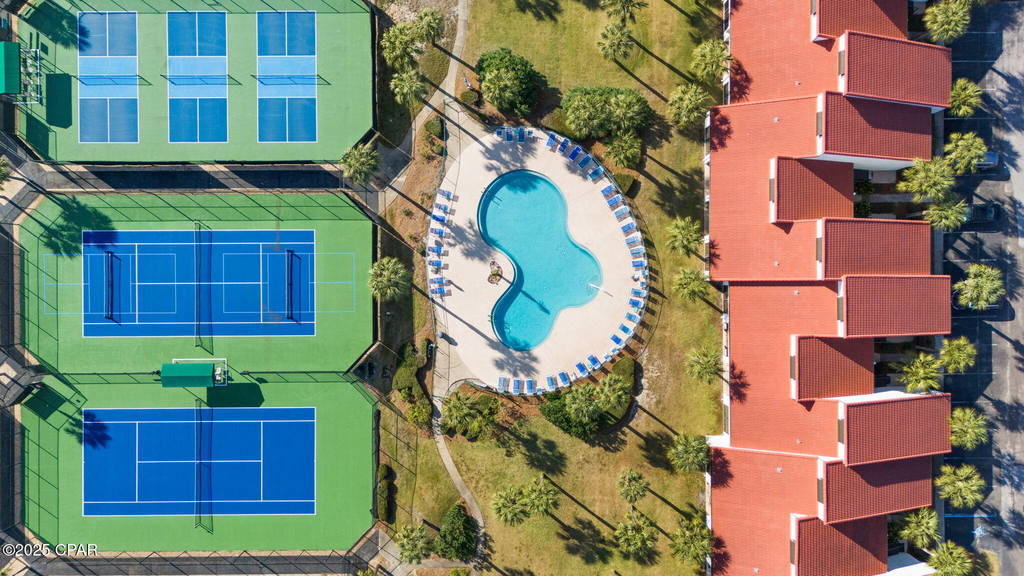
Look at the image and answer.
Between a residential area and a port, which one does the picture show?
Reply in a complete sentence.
What you see here is a residential area.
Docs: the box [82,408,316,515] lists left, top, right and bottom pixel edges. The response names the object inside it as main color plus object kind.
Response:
blue tennis court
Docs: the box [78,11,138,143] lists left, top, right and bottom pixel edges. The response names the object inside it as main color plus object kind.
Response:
blue sports court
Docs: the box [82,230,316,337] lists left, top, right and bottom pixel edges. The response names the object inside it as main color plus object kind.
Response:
blue tennis court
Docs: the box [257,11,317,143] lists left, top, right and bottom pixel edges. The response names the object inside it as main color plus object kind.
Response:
blue sports court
